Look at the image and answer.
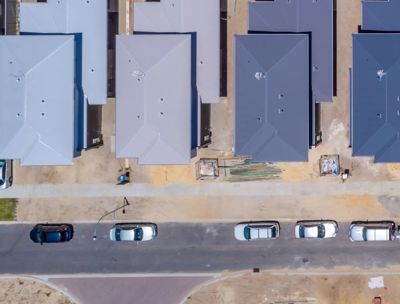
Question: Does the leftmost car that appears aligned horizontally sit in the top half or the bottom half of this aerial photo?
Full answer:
You can find the leftmost car that appears aligned horizontally in the bottom half.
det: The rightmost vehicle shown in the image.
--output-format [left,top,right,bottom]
[348,221,395,243]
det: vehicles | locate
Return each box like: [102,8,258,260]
[30,223,75,245]
[0,159,15,190]
[234,221,282,244]
[294,219,339,240]
[348,221,395,243]
[111,222,158,244]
